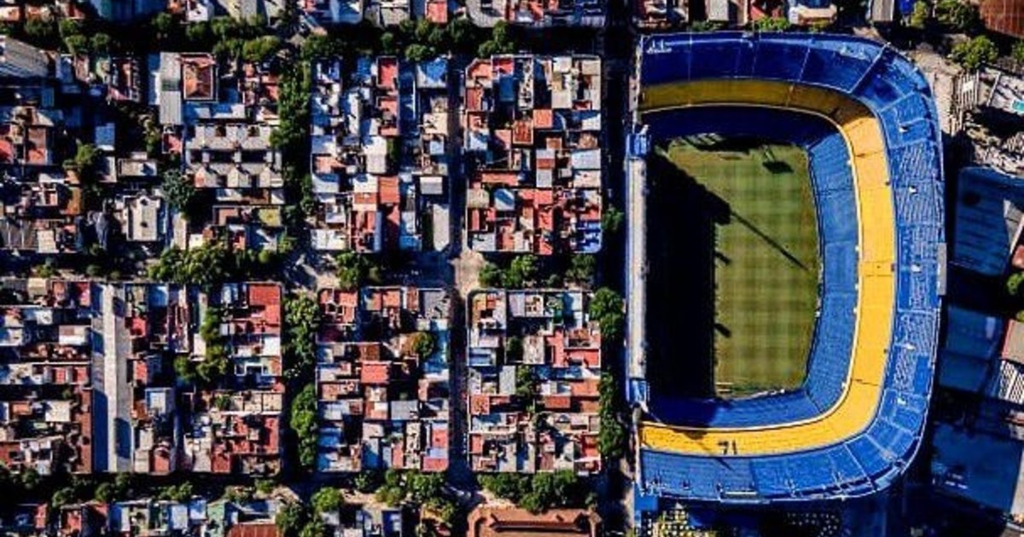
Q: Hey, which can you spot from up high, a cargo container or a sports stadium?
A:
sports stadium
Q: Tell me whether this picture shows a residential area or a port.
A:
residential area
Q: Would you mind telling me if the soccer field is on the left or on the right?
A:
right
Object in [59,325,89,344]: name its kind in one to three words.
house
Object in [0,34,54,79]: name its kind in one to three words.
building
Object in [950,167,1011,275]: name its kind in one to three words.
building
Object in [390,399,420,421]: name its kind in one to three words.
house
